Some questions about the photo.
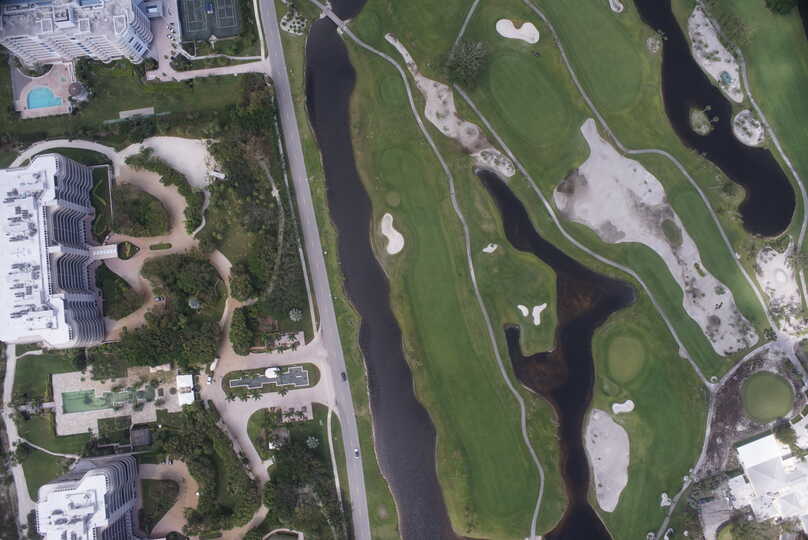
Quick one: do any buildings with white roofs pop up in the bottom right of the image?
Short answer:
Yes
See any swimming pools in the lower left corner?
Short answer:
Yes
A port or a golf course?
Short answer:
golf course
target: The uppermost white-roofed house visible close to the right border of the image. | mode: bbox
[733,433,808,516]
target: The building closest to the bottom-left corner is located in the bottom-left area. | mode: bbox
[37,451,137,540]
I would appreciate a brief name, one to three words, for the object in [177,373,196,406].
building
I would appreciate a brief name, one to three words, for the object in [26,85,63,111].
swimming pool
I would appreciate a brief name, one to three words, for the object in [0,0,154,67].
building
